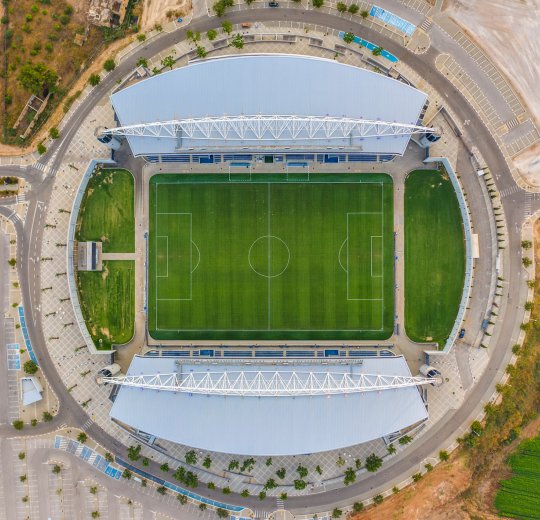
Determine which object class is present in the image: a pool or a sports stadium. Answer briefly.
sports stadium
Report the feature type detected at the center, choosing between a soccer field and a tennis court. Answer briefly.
soccer field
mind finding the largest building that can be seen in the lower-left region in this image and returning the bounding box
[22,378,43,405]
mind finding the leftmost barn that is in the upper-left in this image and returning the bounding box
[13,93,49,137]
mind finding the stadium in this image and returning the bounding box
[66,54,472,456]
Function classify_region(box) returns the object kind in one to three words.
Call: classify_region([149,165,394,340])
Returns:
soccer field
